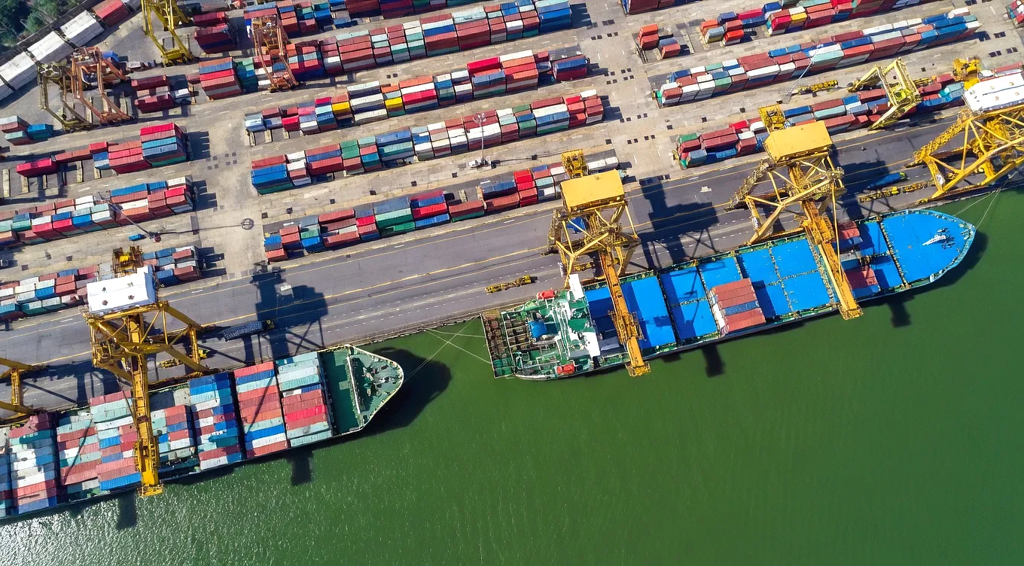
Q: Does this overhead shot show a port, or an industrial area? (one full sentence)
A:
The picture captures a port.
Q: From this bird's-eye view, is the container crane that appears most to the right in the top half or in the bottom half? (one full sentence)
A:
It is in the top half that the container crane that appears most to the right appears.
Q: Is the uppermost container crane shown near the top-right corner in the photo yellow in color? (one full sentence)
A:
Yes, yellow is the color of the uppermost container crane shown near the top-right corner.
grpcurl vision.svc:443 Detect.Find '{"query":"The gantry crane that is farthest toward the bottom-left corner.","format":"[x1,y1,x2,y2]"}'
[0,362,41,420]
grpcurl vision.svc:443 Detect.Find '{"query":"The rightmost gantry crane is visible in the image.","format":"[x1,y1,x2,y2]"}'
[906,61,1024,202]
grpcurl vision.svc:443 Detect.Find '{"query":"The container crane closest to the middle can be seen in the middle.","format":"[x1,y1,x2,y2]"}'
[543,149,652,379]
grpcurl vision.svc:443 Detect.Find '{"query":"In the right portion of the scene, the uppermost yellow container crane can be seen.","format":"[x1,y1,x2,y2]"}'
[849,55,920,131]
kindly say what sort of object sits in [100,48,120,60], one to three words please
vehicle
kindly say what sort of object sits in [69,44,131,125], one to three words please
container crane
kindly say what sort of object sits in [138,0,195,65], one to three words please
container crane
